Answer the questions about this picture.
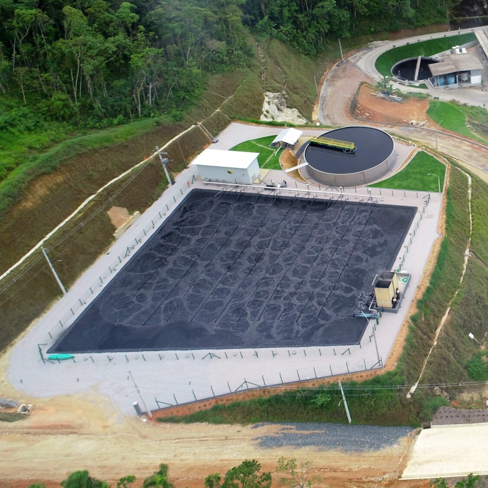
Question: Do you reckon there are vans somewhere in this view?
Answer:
No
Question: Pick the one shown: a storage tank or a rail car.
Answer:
storage tank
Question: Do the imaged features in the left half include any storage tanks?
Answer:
No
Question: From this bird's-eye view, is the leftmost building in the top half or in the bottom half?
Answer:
top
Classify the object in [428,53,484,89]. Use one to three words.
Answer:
house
